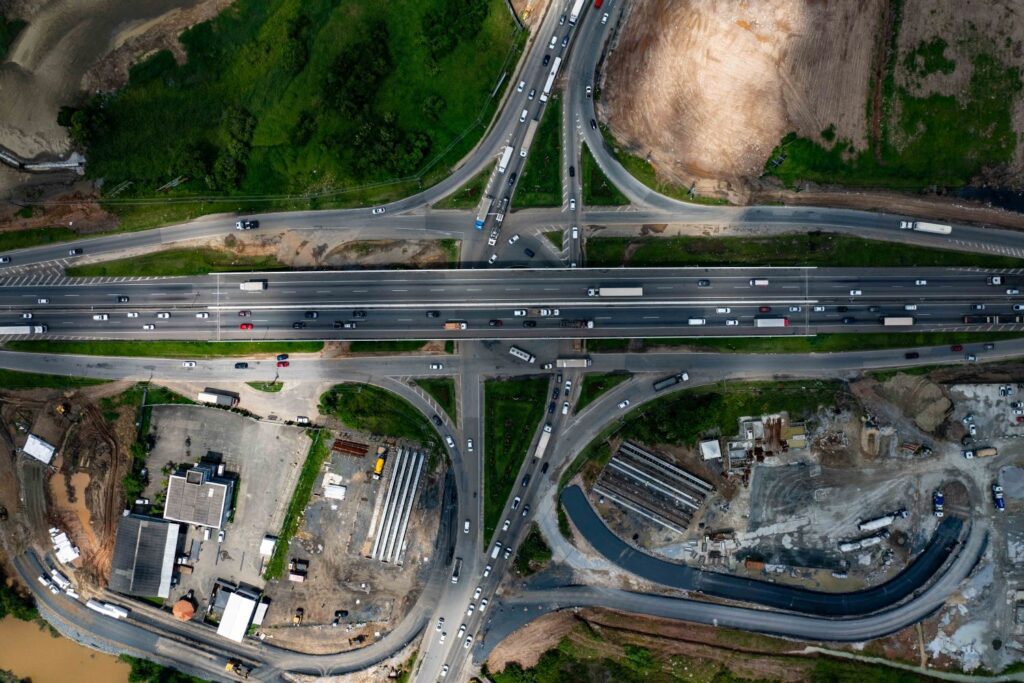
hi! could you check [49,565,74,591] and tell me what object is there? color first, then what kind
white truck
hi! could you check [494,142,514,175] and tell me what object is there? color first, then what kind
white vehicle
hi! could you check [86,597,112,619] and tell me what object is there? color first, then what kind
white truck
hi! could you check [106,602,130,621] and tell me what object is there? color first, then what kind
white vehicle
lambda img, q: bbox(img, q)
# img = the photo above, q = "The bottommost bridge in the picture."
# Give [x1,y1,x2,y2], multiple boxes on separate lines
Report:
[208,267,818,342]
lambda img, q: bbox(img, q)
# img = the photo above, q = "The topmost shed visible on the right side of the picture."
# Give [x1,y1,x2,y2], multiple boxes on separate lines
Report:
[699,439,721,459]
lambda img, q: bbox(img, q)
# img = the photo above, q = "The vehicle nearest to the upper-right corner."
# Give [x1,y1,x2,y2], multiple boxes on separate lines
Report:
[898,221,953,235]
